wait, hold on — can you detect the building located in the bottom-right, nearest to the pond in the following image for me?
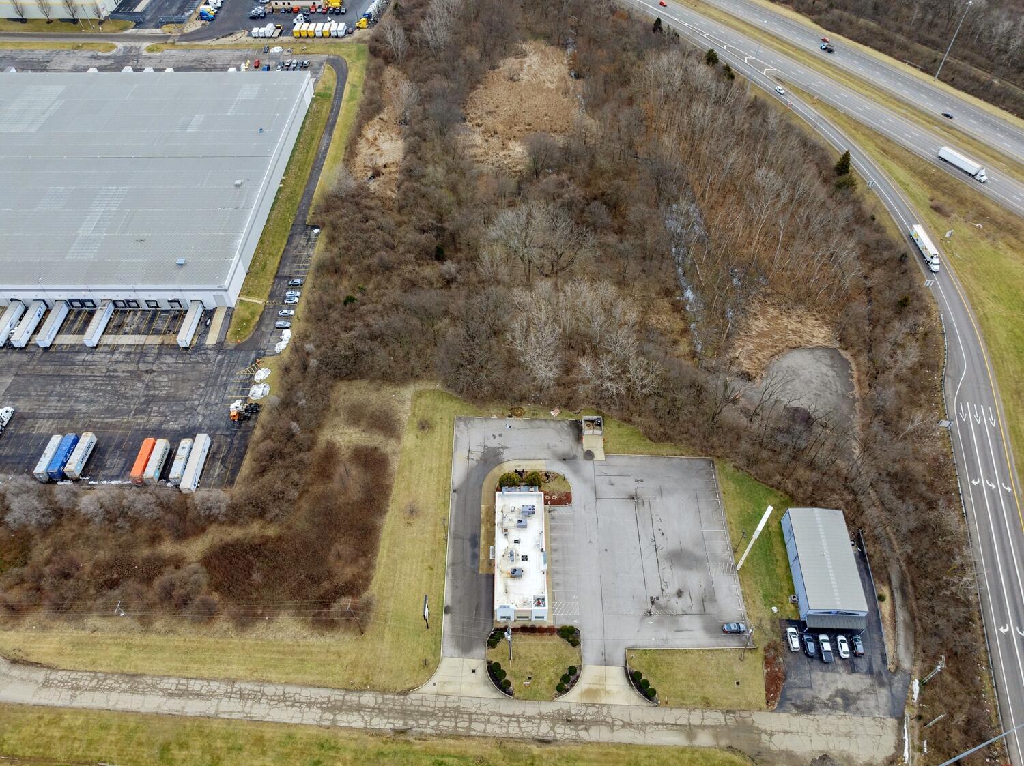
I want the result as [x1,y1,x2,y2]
[783,507,869,637]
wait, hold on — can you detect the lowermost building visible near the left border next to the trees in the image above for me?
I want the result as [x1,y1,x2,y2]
[0,74,313,308]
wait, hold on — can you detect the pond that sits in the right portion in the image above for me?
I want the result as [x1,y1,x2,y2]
[736,347,857,458]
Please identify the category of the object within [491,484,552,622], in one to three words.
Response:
building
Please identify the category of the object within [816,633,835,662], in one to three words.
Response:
vehicle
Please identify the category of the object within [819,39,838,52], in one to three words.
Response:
vehicle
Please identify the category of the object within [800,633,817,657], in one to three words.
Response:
car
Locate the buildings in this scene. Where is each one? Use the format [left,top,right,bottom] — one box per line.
[0,74,313,308]
[270,0,324,8]
[0,0,117,18]
[491,484,552,622]
[783,507,869,637]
